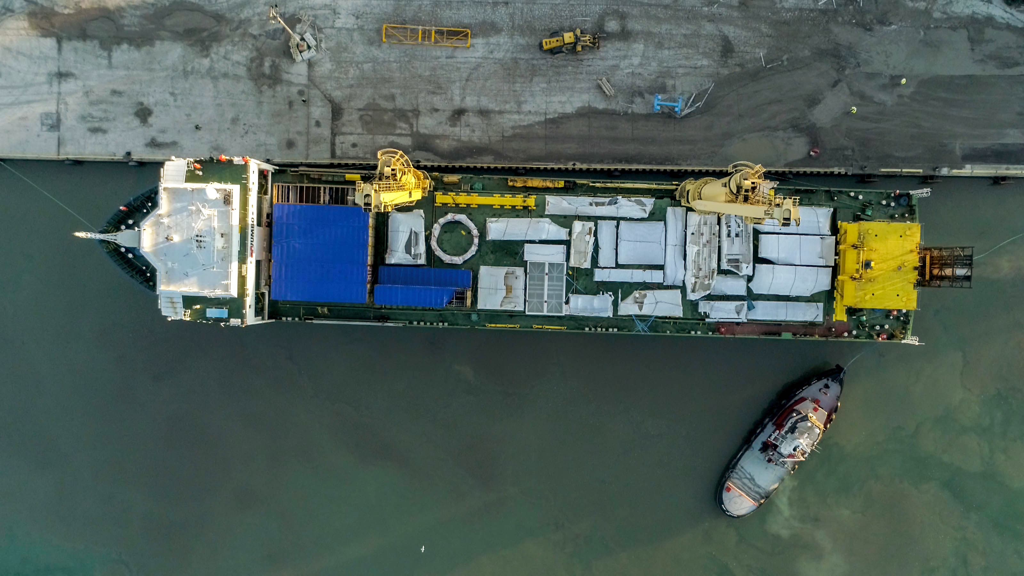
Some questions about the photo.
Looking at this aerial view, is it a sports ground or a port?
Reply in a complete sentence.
It's a port.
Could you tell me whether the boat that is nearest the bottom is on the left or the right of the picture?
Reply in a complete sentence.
You can find the boat that is nearest the bottom on the right side of the picture.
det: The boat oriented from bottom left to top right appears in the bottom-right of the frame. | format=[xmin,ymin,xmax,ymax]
[717,364,848,517]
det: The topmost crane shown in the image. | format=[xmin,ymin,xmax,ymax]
[270,4,317,64]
